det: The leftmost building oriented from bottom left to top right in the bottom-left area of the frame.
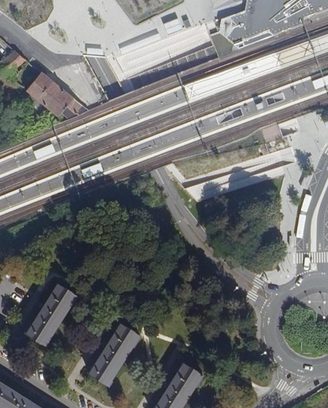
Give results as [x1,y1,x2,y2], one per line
[26,284,76,347]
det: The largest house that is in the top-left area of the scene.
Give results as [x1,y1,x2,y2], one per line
[26,72,75,117]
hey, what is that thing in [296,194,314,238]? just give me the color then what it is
white vehicle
